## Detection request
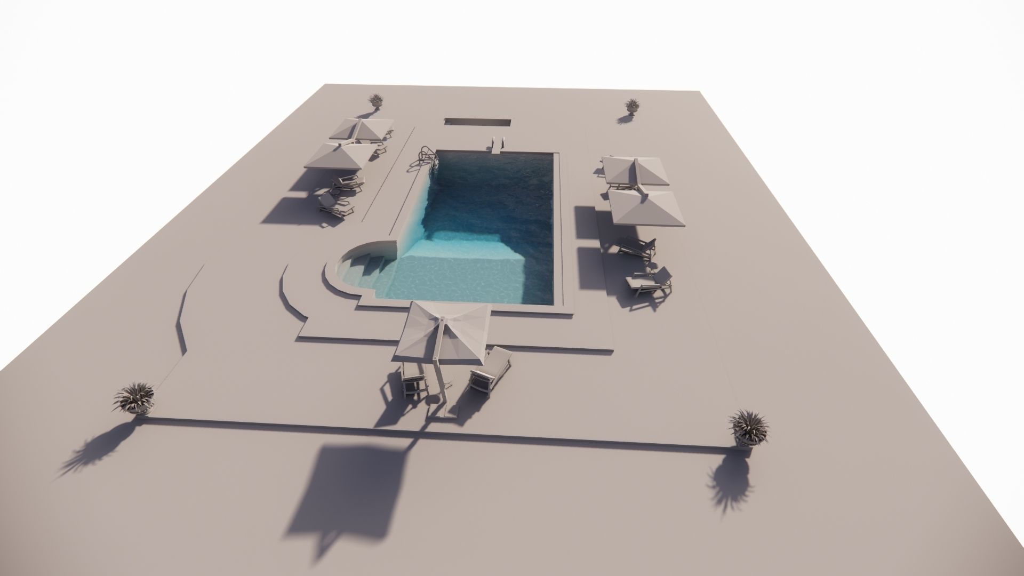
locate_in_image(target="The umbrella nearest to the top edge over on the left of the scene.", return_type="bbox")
[303,117,394,173]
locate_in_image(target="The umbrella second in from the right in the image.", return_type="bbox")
[392,299,492,419]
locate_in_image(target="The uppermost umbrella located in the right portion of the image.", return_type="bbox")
[602,155,686,226]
